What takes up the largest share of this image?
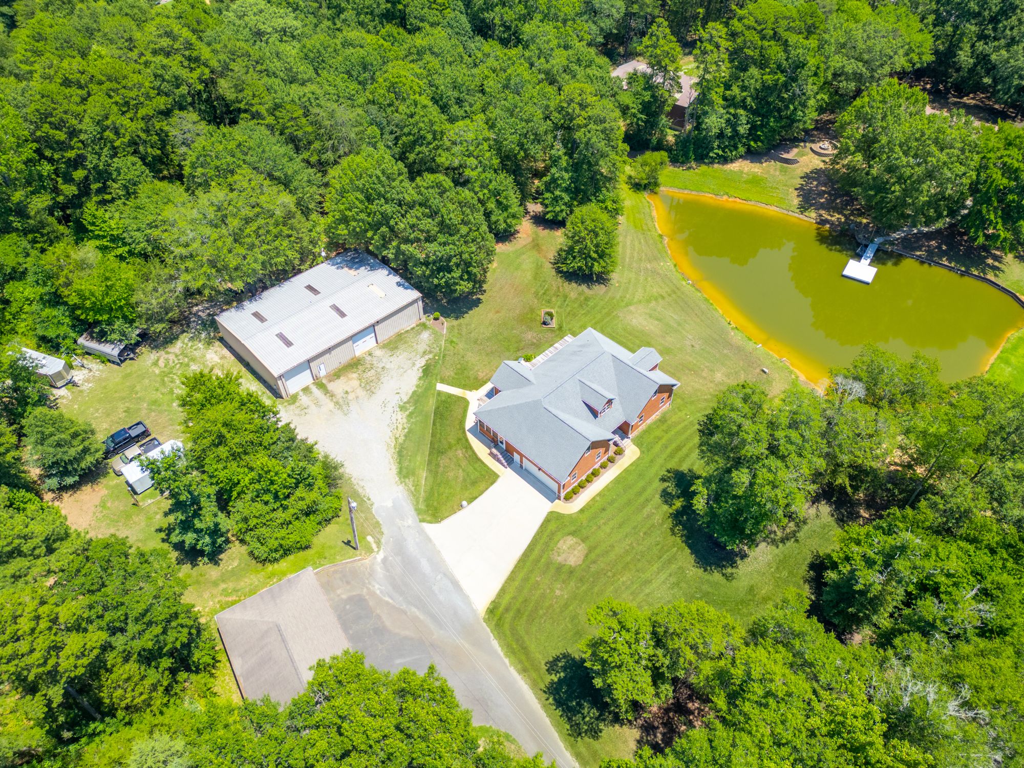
trees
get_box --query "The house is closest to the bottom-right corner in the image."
[472,327,680,499]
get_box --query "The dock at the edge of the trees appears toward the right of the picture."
[842,243,878,285]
